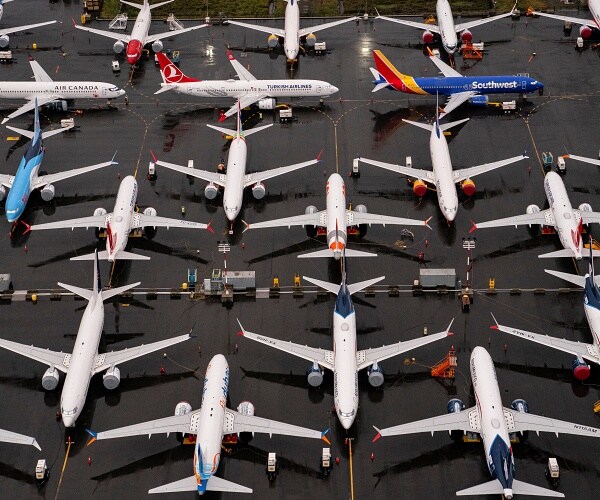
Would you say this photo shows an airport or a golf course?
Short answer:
airport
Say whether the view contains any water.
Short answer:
No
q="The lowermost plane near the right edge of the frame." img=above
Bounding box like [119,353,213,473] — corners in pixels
[374,344,600,496]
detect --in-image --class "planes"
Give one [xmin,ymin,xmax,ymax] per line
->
[236,242,454,429]
[0,0,62,47]
[150,95,324,223]
[0,247,197,428]
[374,344,600,496]
[376,0,514,58]
[154,50,337,121]
[22,174,213,261]
[527,0,600,38]
[222,0,361,64]
[0,96,118,225]
[491,234,600,380]
[0,53,125,124]
[561,146,600,168]
[85,352,330,494]
[354,90,529,222]
[241,172,433,258]
[369,48,544,120]
[471,172,600,260]
[72,0,212,69]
